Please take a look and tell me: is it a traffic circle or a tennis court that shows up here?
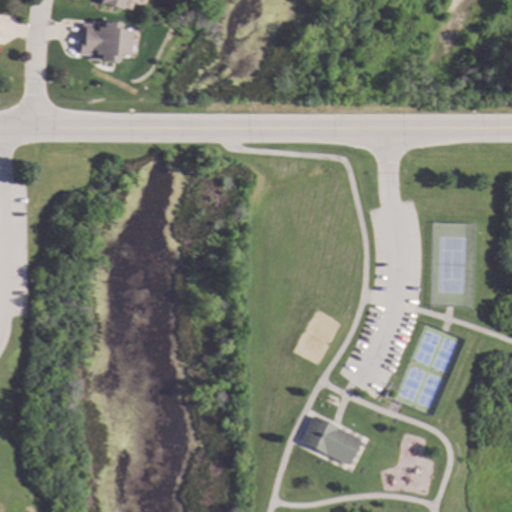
tennis court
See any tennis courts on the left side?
No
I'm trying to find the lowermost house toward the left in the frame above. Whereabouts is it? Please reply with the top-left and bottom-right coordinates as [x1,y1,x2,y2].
[81,20,140,62]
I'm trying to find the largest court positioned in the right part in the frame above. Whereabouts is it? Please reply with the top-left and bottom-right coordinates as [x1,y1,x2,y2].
[430,223,476,307]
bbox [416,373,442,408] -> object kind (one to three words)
sports court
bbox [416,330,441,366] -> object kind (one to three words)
sports court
